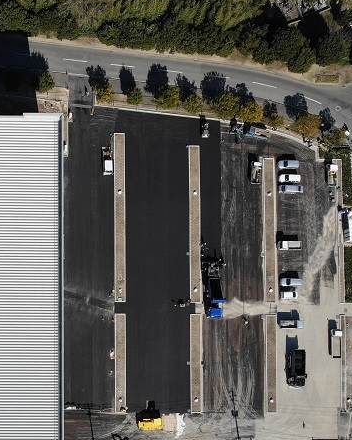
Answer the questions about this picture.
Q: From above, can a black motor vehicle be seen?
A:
Yes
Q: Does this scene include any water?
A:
No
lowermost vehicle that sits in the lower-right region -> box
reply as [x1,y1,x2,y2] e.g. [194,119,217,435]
[287,349,304,387]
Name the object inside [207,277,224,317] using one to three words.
vehicle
